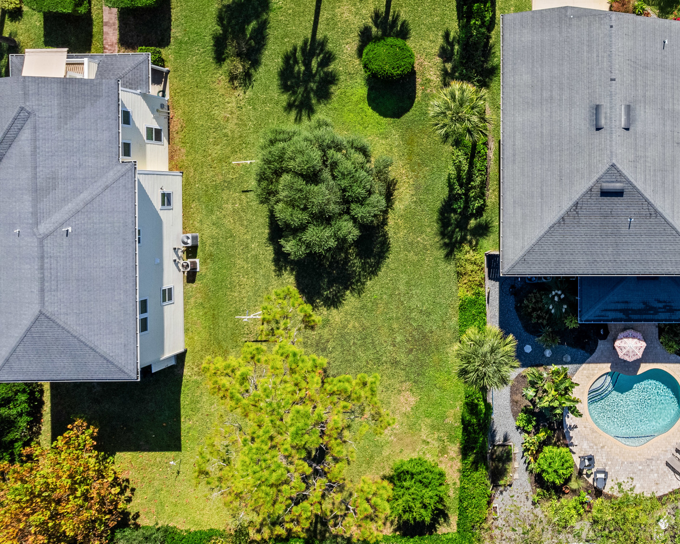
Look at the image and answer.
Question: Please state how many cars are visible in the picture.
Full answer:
I count no cars.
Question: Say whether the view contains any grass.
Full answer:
Yes, there's grass in this view.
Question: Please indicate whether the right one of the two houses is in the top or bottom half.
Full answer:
Seen from above, the right one of the two houses lies in the top half of the view.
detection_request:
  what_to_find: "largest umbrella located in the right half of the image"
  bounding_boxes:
[615,328,646,358]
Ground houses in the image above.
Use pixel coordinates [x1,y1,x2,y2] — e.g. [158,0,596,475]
[499,7,680,325]
[0,51,184,383]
